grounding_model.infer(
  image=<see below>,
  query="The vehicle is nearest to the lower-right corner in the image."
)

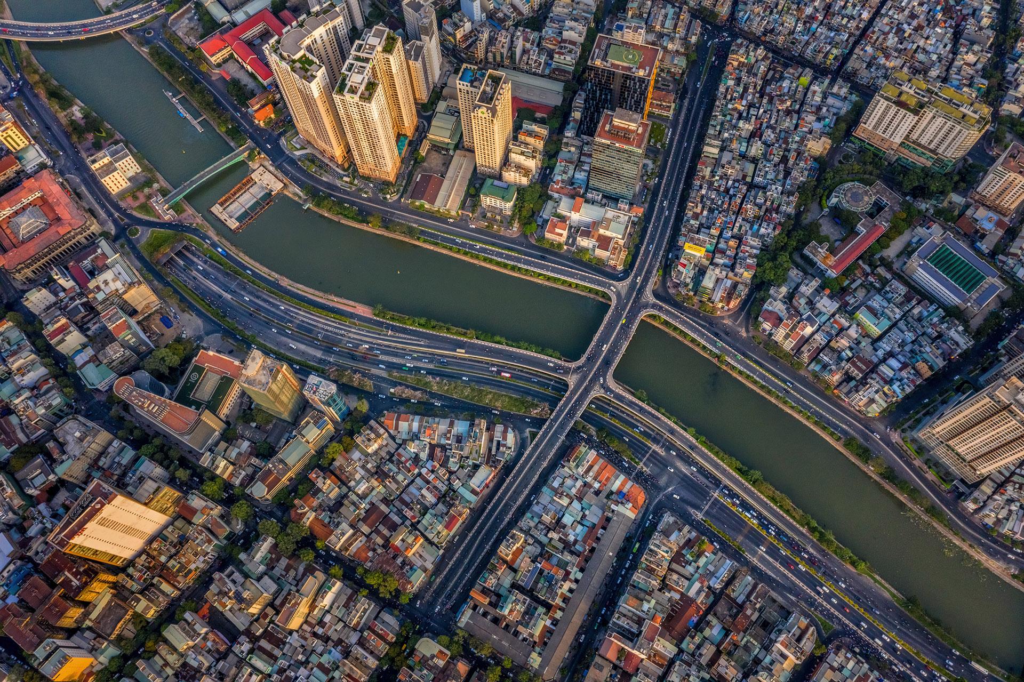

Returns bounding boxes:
[968,659,997,678]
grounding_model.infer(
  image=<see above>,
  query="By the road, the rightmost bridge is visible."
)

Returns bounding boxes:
[372,95,845,612]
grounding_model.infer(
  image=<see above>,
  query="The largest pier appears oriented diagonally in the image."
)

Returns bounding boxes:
[161,89,205,133]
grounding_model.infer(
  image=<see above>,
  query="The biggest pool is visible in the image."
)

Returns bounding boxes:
[396,132,411,166]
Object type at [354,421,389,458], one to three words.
house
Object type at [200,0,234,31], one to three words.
shed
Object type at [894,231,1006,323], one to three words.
building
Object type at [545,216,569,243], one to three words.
house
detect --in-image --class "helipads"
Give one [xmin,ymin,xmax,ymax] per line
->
[607,44,642,67]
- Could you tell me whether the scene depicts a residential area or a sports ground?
residential area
